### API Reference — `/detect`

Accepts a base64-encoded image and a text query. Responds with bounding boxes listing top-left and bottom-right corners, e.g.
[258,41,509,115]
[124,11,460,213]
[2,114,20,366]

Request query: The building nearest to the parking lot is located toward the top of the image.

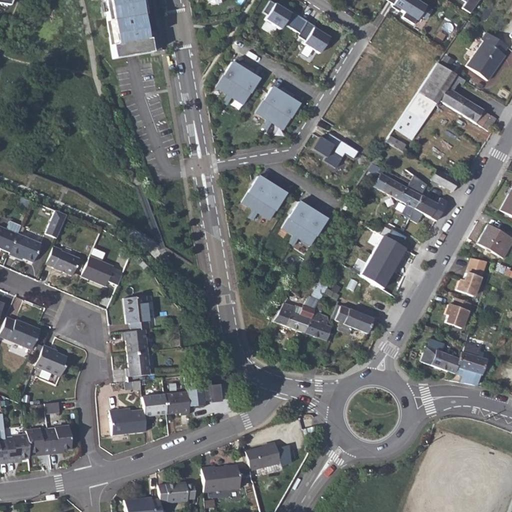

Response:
[98,0,156,60]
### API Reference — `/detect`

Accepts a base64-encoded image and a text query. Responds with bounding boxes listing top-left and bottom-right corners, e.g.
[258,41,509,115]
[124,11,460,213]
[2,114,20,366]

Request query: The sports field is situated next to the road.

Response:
[404,431,512,512]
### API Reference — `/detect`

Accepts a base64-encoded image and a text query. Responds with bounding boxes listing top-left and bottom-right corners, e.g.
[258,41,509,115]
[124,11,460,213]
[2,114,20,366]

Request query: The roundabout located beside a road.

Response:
[326,367,419,460]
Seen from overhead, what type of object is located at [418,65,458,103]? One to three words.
building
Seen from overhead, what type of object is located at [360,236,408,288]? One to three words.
house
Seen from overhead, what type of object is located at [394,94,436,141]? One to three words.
building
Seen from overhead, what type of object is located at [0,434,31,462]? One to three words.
house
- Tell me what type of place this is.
residential area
